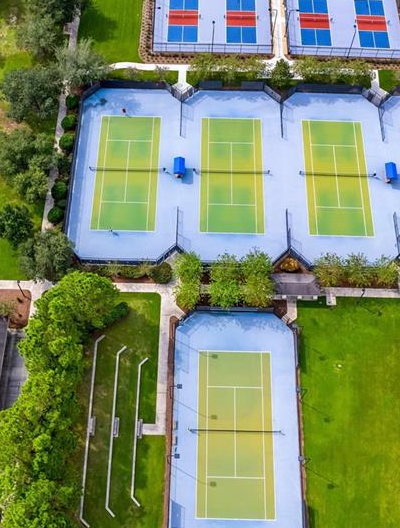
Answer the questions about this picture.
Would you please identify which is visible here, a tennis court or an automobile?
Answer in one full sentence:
This aerial view contains a tennis court.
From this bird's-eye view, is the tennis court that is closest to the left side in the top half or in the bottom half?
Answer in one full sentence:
Seen from above, the tennis court that is closest to the left side lies in the top half of the view.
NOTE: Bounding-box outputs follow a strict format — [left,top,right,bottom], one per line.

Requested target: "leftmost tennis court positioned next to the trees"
[68,89,181,255]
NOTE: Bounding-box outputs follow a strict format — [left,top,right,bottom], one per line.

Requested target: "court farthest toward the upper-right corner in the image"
[340,0,400,58]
